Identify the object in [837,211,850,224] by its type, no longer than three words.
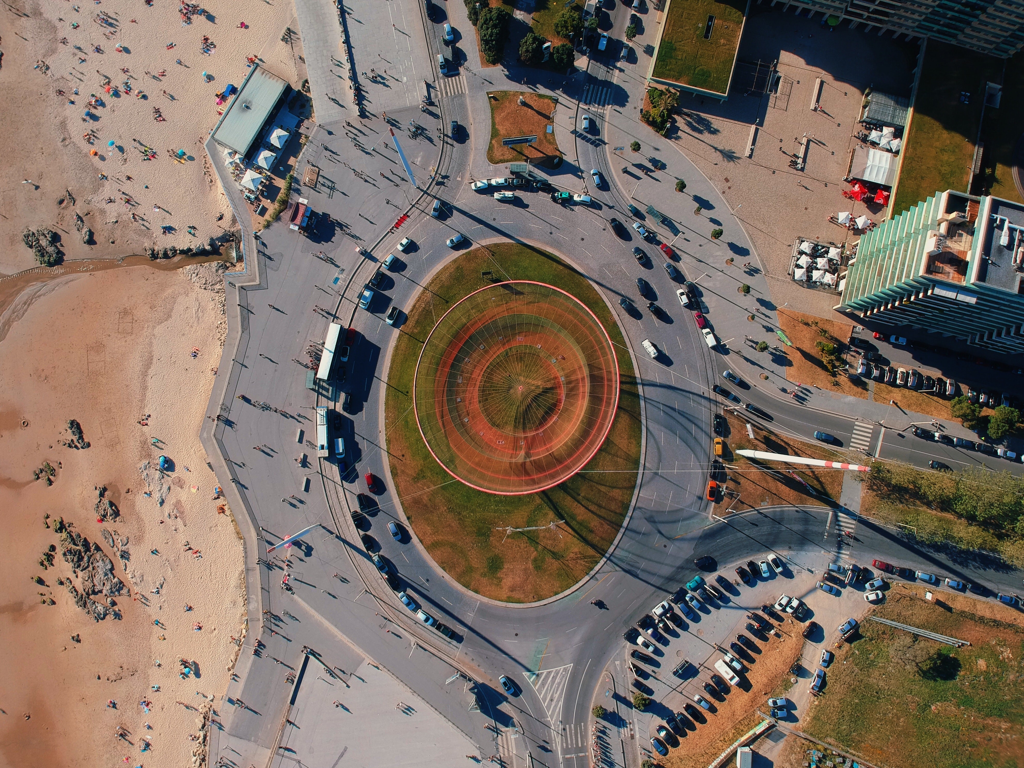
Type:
umbrella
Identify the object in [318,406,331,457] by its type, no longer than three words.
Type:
train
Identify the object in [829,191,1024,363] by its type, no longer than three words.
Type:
building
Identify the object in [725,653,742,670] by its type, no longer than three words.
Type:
car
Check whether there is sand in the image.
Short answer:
Yes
